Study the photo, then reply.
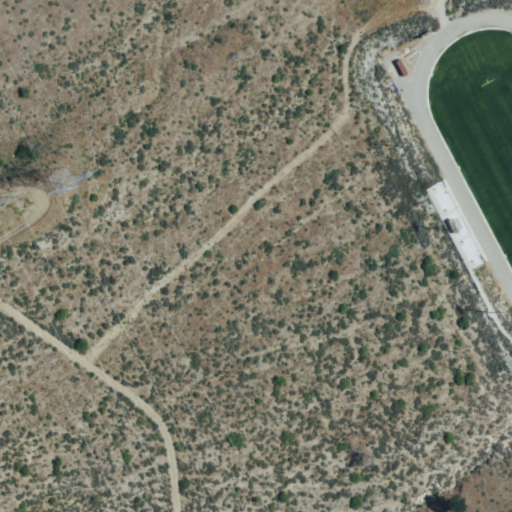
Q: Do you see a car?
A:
No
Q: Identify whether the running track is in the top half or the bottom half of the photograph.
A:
top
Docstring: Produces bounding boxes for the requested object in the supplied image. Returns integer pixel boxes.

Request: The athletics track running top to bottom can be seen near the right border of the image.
[412,8,512,302]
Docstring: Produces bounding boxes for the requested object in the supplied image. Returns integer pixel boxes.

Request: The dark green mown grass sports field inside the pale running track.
[430,28,512,264]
